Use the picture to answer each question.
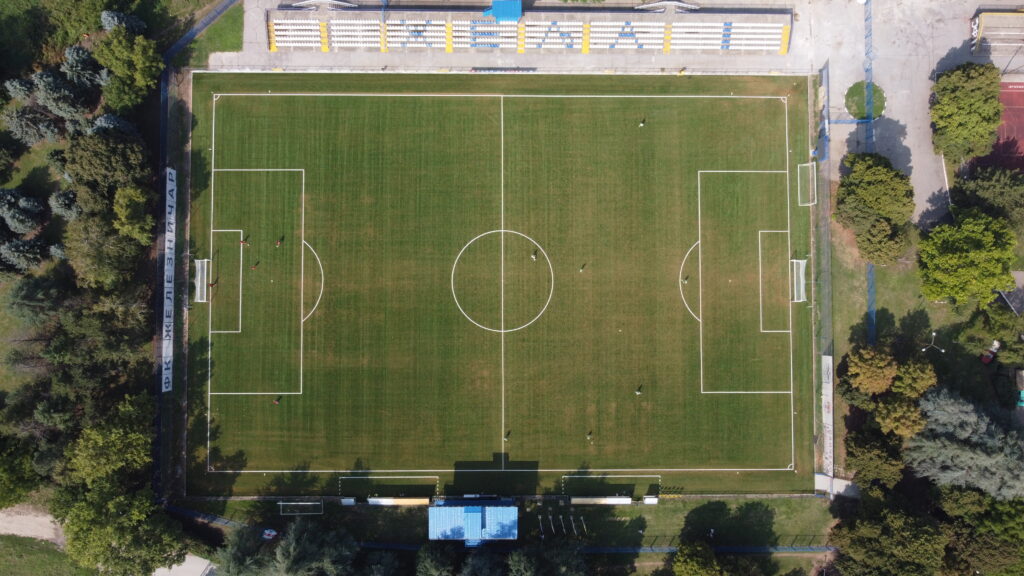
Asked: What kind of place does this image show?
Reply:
sports ground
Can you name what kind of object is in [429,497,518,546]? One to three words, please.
building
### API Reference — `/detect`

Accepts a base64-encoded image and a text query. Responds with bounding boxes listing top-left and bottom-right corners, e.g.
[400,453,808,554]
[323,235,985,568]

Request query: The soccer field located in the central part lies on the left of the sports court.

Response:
[186,74,814,498]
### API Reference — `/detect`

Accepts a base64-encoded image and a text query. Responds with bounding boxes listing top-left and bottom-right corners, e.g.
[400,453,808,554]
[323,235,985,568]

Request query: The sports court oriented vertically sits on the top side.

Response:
[985,82,1024,171]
